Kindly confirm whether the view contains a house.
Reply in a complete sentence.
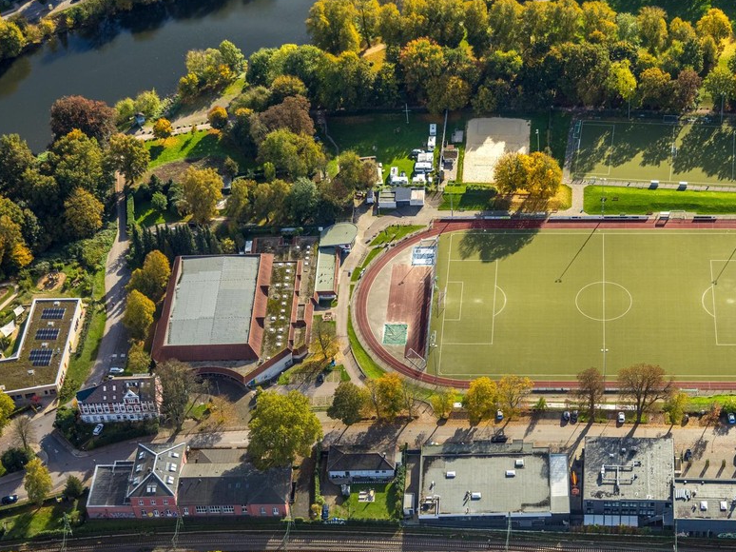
Yes, a house appears in the view.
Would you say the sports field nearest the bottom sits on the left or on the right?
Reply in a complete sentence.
You can find the sports field nearest the bottom on the right side of the picture.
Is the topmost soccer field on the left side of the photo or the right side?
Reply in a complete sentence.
It is on the right.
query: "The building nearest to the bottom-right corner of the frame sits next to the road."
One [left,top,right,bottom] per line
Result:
[674,480,736,532]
